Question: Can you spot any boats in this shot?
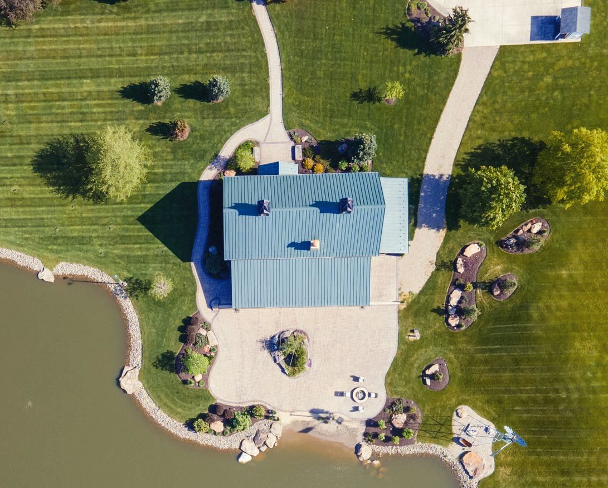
No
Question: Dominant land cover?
grass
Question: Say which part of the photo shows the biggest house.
center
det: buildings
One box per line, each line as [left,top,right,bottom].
[223,161,408,310]
[557,3,592,40]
